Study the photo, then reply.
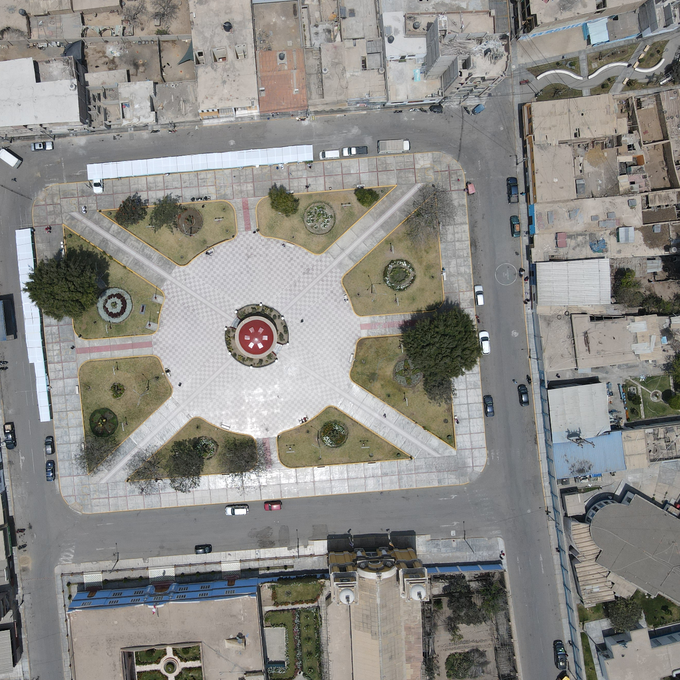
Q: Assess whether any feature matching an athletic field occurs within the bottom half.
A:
No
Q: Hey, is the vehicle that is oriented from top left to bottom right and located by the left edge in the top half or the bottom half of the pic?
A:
top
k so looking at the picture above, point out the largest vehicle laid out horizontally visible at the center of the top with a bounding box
[377,138,410,153]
